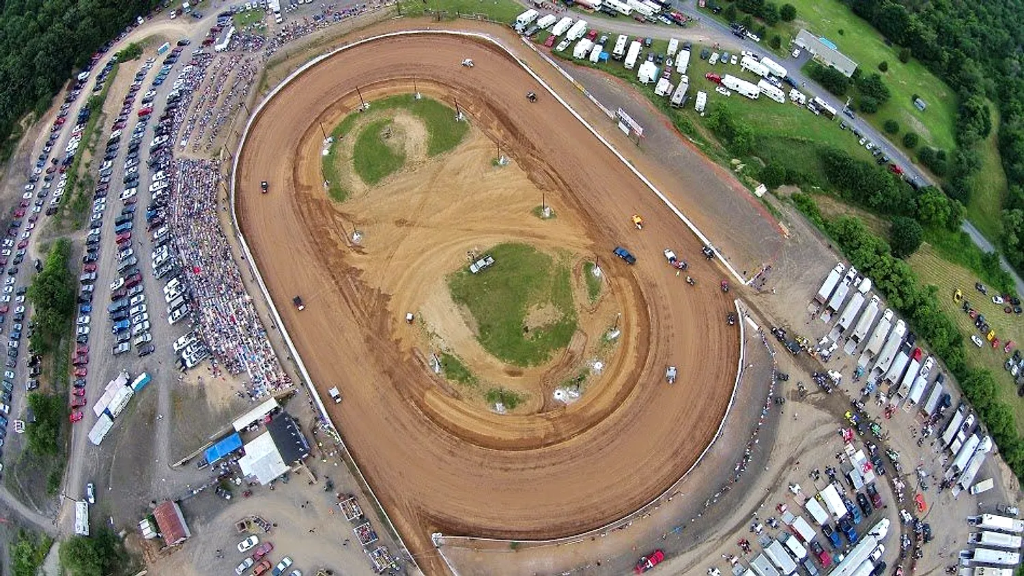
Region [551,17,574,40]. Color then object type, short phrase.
white camper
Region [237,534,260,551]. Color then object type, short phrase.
white car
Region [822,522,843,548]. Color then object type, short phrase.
blue truck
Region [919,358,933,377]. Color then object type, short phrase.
white vehicle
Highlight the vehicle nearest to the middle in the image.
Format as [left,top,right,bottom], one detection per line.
[470,255,494,272]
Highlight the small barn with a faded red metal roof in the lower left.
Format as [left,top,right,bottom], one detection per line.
[153,502,198,547]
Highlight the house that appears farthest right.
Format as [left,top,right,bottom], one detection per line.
[792,29,858,80]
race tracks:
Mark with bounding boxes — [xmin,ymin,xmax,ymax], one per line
[233,32,746,539]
